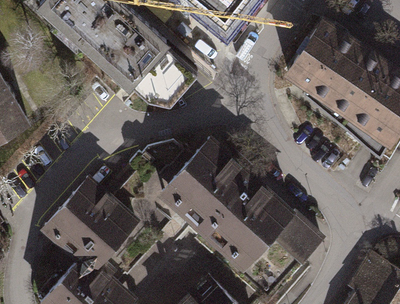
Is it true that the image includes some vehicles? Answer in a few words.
Yes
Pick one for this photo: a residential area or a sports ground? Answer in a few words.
residential area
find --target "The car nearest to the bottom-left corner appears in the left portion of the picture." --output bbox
[9,176,28,198]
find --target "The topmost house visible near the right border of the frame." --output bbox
[284,17,400,150]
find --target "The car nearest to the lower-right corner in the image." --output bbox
[360,162,378,188]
